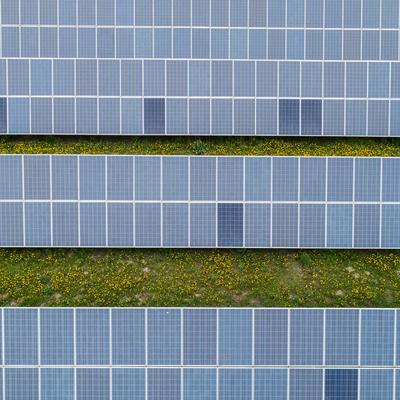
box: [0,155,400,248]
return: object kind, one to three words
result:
solar array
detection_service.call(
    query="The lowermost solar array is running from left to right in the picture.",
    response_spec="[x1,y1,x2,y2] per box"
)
[0,307,400,400]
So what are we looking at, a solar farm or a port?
solar farm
